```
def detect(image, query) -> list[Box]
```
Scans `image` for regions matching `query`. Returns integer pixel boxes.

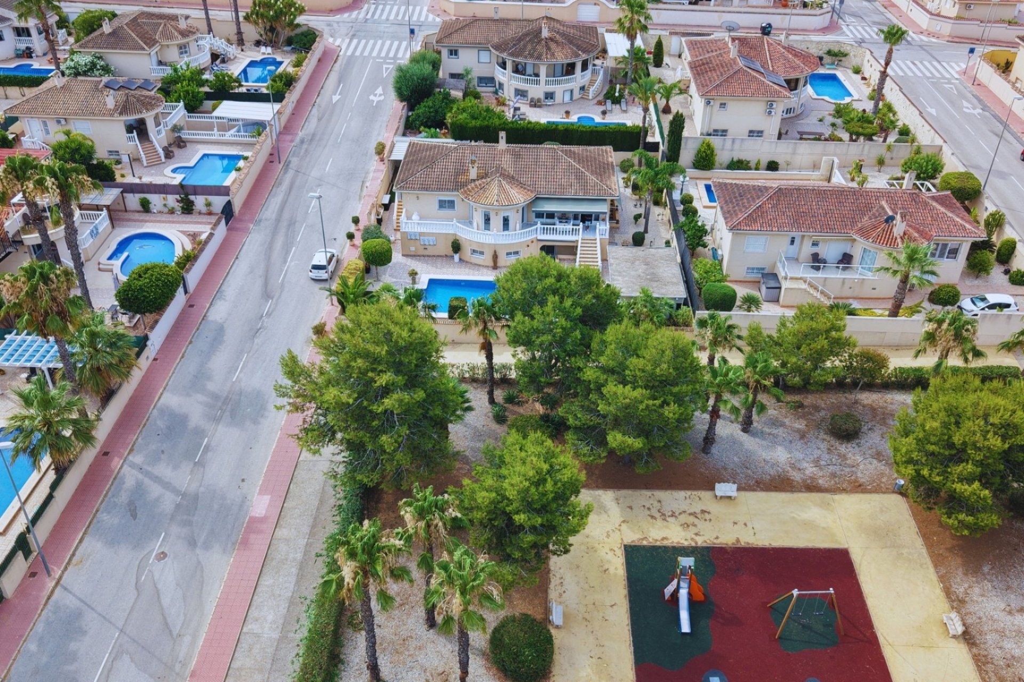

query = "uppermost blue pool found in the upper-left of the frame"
[238,55,287,84]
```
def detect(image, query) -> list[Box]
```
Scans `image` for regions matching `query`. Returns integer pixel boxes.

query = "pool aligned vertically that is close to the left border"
[0,418,48,548]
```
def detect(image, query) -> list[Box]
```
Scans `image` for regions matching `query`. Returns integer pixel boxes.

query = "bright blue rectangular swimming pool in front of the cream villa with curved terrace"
[412,274,531,321]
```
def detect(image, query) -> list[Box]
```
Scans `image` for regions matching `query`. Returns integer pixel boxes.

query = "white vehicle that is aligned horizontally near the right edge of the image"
[955,289,1022,316]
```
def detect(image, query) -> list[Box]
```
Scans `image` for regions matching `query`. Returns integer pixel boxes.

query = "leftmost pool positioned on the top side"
[85,223,194,277]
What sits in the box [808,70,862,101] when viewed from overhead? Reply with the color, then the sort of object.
blue swimming pool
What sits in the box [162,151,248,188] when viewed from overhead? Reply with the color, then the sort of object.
blue swimming pool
